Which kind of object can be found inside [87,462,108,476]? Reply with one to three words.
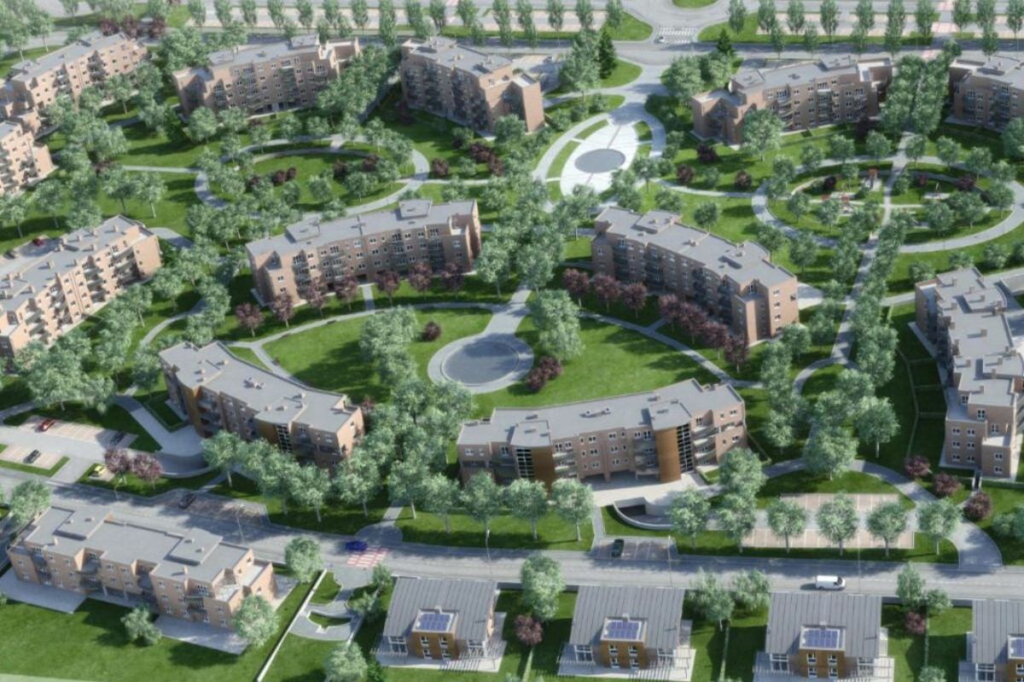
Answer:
car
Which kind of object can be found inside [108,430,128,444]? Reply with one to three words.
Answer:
car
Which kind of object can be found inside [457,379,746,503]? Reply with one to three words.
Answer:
building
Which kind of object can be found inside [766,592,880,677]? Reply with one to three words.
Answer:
house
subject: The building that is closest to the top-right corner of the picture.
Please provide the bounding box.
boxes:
[949,57,1024,128]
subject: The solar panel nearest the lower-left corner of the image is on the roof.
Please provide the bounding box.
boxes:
[416,605,454,629]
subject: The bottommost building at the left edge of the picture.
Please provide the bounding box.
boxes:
[7,507,279,630]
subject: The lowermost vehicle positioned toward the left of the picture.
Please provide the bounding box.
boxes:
[344,541,368,553]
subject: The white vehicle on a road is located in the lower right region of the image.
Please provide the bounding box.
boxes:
[816,573,846,592]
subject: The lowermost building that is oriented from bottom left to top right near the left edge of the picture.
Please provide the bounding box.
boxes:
[0,214,164,372]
